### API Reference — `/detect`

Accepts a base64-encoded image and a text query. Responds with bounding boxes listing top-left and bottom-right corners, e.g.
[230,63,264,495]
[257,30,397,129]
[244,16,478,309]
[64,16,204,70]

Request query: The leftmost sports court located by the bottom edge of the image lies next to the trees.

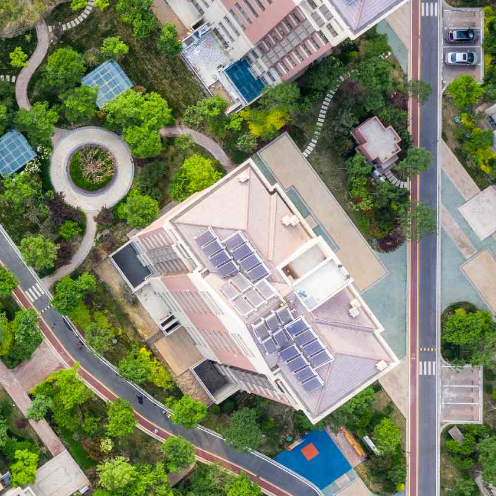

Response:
[276,430,352,490]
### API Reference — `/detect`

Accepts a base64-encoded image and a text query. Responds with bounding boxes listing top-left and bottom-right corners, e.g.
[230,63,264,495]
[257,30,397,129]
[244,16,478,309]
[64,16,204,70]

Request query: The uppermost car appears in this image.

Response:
[448,27,480,44]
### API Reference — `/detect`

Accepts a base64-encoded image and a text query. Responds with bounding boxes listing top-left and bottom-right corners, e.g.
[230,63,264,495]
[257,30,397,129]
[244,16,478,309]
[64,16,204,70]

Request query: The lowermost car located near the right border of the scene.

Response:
[446,50,482,66]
